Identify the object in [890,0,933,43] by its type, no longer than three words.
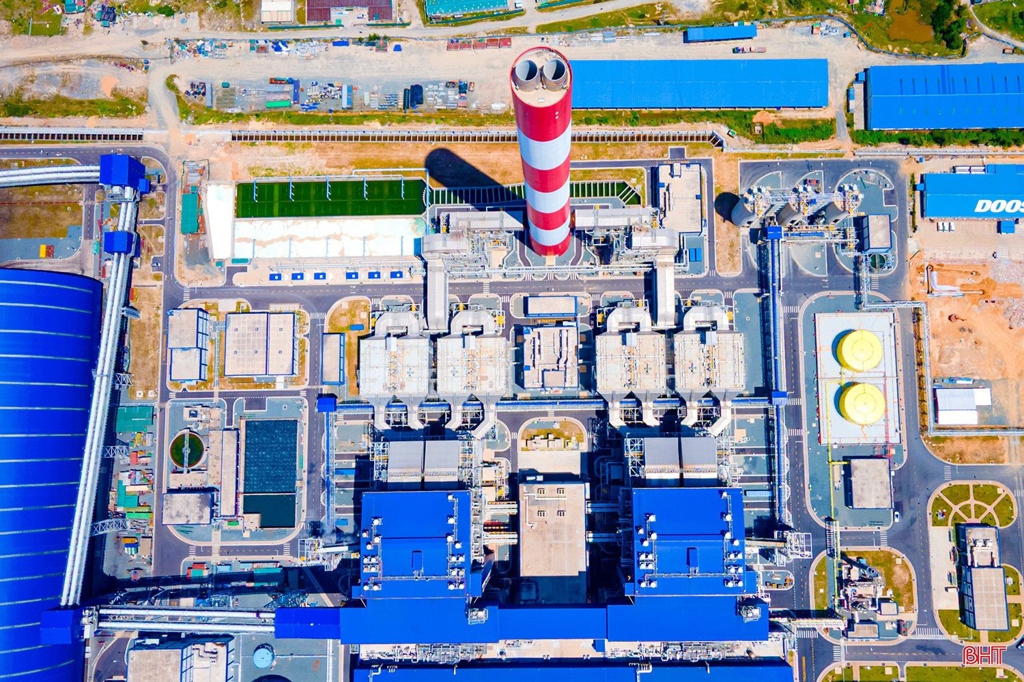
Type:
pond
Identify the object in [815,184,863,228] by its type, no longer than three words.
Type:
silo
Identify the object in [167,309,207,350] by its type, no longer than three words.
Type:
building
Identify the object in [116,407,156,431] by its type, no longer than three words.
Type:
shed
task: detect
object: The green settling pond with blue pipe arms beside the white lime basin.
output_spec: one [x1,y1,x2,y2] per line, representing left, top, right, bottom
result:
[236,167,430,235]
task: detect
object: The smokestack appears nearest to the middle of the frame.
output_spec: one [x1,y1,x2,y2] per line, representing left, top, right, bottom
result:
[511,47,572,258]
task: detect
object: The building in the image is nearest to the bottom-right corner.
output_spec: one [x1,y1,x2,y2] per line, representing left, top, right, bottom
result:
[960,565,1009,630]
